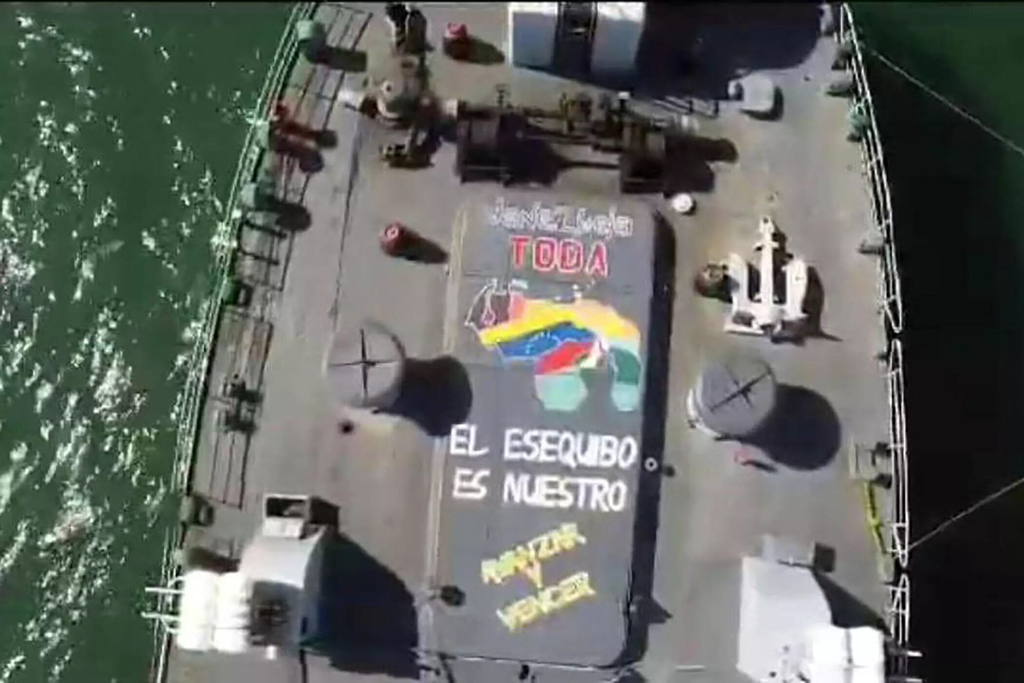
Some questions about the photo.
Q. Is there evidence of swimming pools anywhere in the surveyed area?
No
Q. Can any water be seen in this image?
Yes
